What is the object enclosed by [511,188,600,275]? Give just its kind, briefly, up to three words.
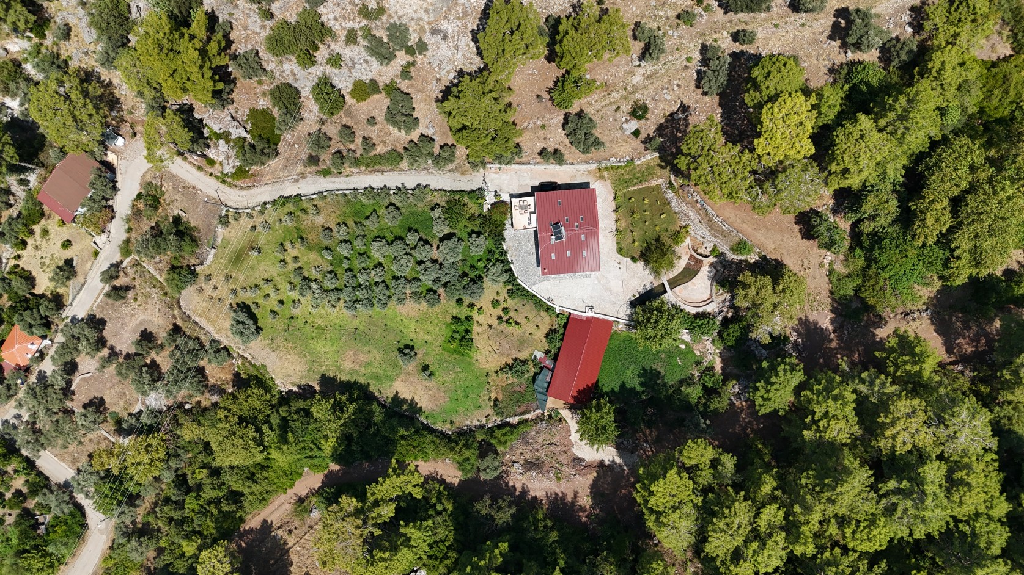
house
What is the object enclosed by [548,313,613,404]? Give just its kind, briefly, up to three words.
barn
